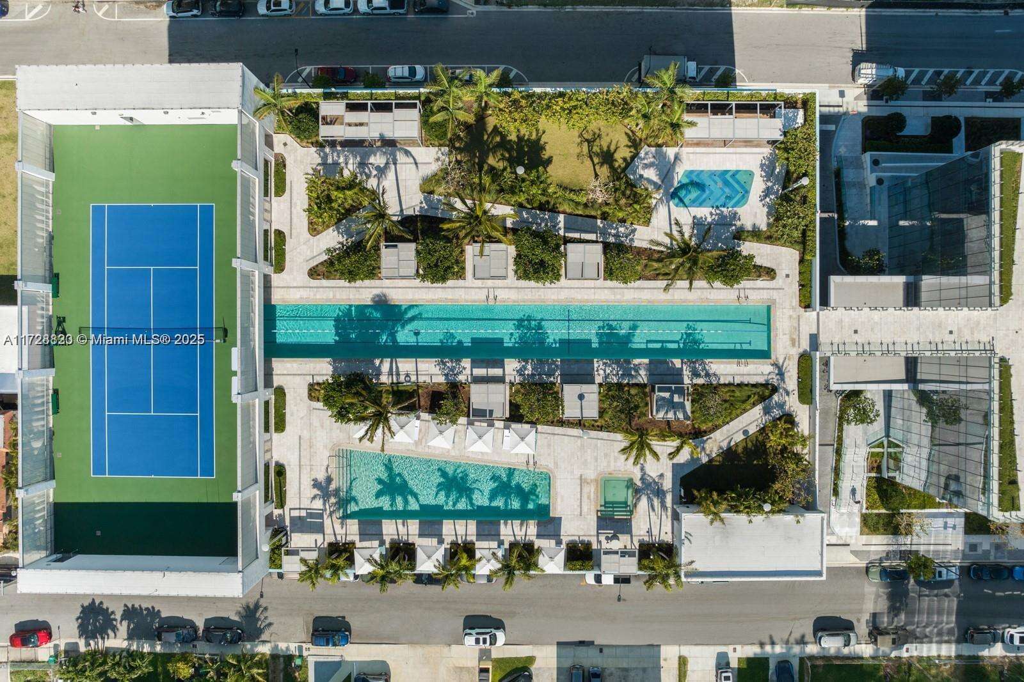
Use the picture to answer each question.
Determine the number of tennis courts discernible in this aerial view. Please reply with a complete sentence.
The picture shows just 1 tennis court.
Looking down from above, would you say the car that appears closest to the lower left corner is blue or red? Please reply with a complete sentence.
The car that appears closest to the lower left corner is red.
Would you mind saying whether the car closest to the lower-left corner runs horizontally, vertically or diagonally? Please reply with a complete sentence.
From this overhead view, the car closest to the lower-left corner appears to run horizontally.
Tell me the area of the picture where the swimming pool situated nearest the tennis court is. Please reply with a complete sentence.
The swimming pool situated nearest the tennis court sits in the center section of the image.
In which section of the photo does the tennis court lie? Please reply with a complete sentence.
The tennis court is located in the left region of the scene.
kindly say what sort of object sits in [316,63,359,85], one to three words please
car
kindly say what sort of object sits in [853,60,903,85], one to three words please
vehicle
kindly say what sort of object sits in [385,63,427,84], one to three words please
car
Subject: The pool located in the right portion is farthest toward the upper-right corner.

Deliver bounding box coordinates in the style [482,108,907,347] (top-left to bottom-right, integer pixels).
[672,170,753,207]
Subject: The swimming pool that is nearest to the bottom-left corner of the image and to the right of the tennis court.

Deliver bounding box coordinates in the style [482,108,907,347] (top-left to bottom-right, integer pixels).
[333,444,555,524]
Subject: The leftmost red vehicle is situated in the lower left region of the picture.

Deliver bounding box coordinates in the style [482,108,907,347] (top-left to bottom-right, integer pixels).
[10,626,54,649]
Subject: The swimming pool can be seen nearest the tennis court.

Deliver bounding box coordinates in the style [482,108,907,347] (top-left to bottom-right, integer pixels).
[263,298,776,362]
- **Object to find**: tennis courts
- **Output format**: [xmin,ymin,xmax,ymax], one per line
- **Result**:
[53,126,247,556]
